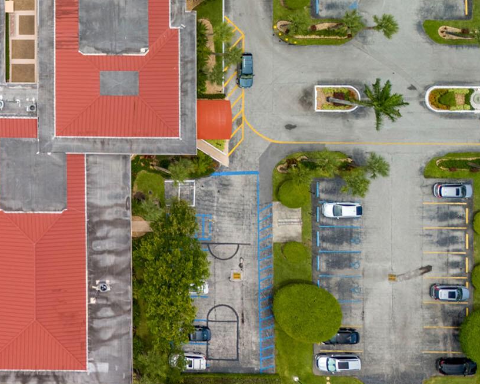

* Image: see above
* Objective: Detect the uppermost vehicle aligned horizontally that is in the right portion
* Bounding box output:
[429,181,471,199]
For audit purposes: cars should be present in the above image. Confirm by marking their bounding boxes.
[235,52,253,87]
[429,181,471,199]
[321,326,360,343]
[176,351,208,370]
[319,200,362,219]
[314,351,361,373]
[193,323,215,340]
[434,355,475,376]
[189,278,211,294]
[427,283,468,303]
